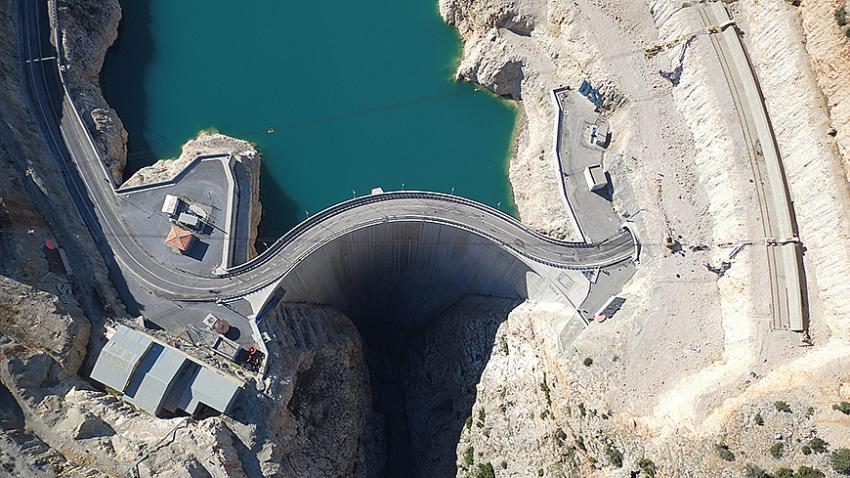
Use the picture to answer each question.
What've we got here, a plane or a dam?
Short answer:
dam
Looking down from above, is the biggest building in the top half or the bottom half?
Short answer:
bottom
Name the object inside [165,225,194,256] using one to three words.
house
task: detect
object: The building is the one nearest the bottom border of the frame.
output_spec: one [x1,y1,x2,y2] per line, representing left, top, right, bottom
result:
[90,325,250,417]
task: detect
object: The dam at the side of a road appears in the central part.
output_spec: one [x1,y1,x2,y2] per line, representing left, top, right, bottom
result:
[227,188,633,334]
